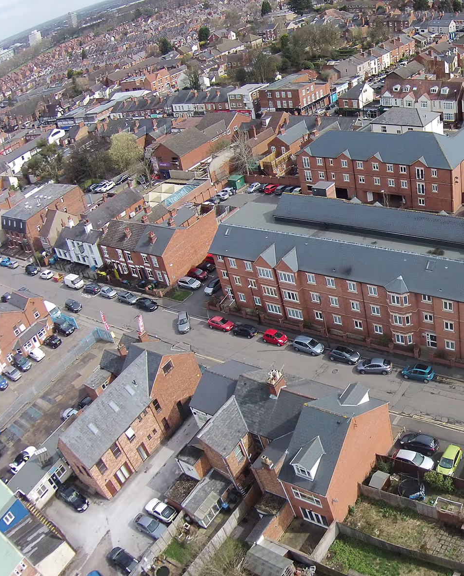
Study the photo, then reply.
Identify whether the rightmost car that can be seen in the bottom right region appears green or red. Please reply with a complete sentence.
The color of the rightmost car that can be seen in the bottom right region is green.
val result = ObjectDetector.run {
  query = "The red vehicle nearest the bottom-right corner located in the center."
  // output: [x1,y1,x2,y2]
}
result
[262,328,289,345]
